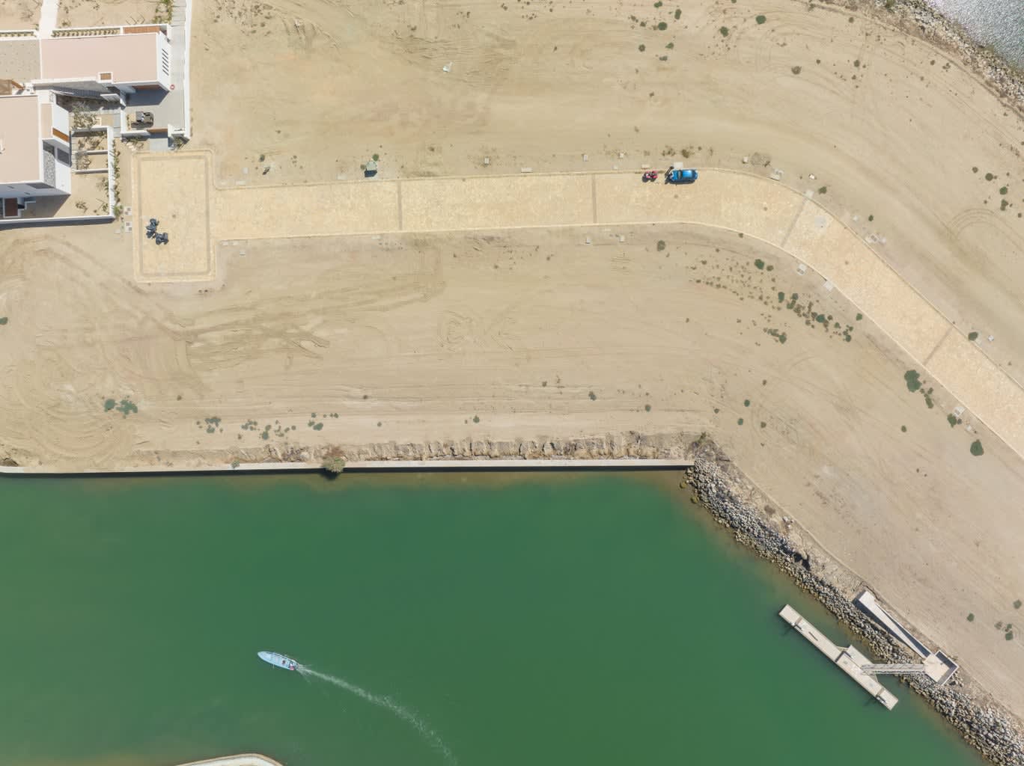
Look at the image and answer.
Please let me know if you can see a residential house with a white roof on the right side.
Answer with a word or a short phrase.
No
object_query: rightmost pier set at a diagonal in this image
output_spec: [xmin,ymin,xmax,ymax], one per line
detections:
[778,604,898,710]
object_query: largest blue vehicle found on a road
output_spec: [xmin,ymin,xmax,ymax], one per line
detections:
[671,169,698,183]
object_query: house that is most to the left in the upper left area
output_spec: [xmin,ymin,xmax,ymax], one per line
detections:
[0,90,73,197]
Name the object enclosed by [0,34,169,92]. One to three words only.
house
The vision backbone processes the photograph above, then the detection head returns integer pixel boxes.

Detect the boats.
[257,654,298,673]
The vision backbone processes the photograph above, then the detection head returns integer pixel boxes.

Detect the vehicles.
[153,232,170,243]
[145,217,161,235]
[133,111,155,124]
[645,170,659,180]
[671,169,698,183]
